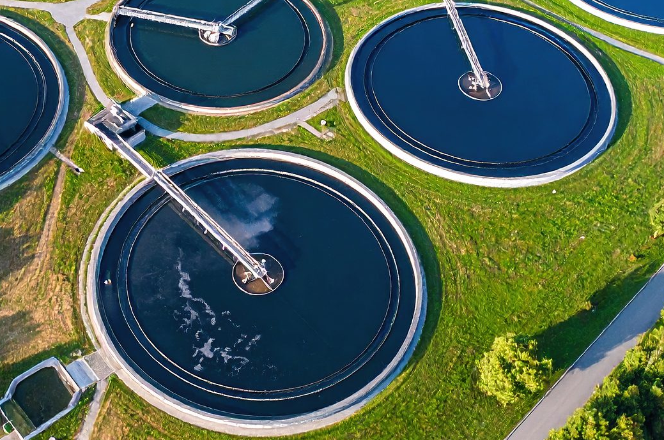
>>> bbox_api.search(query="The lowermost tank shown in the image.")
[78,156,426,437]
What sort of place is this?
industrial area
